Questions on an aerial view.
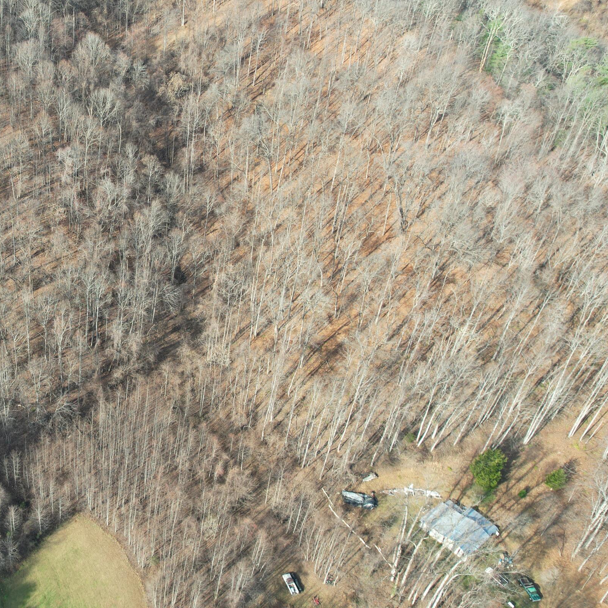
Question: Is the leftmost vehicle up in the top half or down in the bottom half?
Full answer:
The leftmost vehicle is in the bottom half of the image.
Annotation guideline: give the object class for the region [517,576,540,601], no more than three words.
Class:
truck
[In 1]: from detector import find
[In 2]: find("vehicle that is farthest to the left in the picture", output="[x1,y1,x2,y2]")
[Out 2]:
[280,573,300,598]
